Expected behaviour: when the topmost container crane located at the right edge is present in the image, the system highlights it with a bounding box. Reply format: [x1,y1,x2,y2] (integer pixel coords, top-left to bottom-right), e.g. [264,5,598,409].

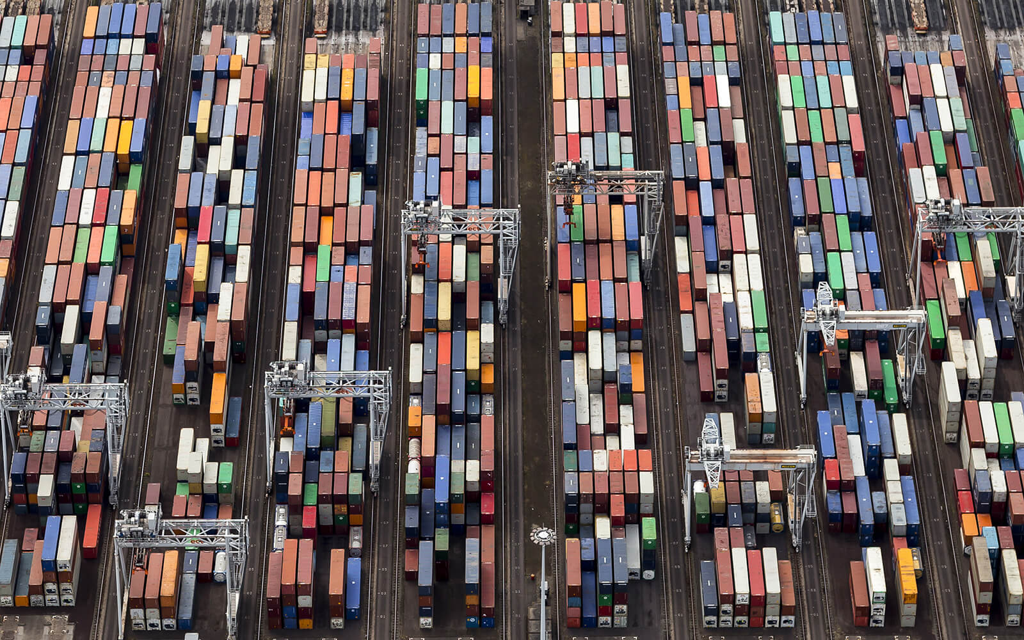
[911,183,1024,327]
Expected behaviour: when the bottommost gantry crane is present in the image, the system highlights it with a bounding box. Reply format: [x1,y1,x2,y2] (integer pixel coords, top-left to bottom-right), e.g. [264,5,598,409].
[110,493,248,638]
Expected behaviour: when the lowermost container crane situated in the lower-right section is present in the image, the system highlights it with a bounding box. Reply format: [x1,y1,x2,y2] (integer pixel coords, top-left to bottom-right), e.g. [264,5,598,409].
[681,416,817,559]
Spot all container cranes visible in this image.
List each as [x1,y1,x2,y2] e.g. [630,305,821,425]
[399,186,519,332]
[0,360,127,514]
[546,147,665,291]
[681,416,817,559]
[110,493,248,638]
[911,183,1024,327]
[262,345,390,504]
[795,279,929,414]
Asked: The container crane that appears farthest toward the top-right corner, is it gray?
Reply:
Yes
